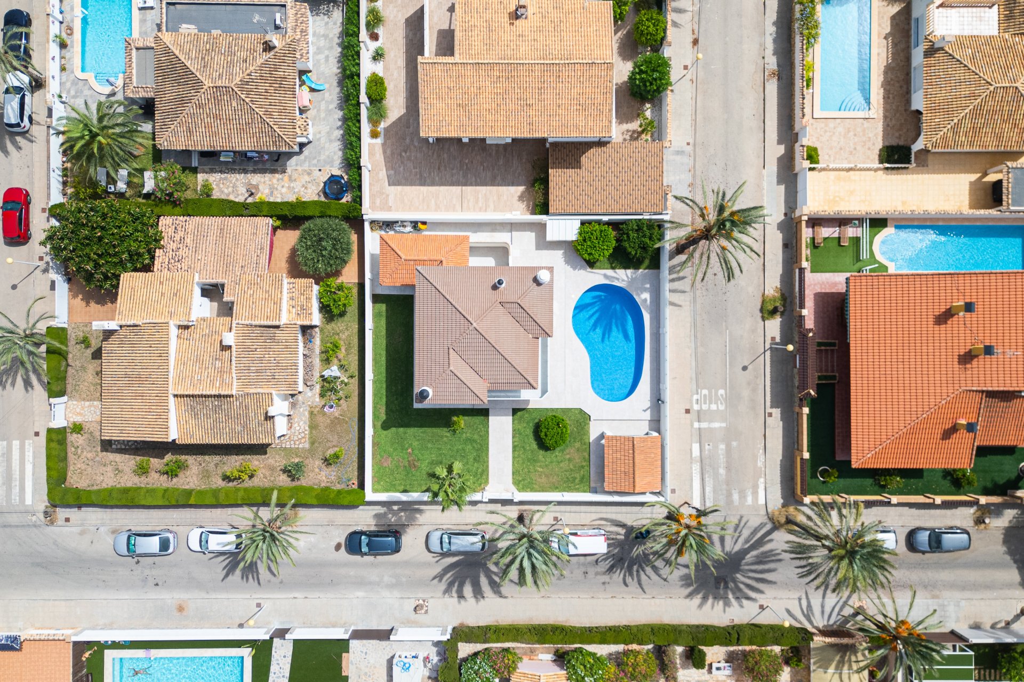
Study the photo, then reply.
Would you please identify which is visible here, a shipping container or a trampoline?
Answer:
trampoline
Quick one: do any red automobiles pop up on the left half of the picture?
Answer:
Yes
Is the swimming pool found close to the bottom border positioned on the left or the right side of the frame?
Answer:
left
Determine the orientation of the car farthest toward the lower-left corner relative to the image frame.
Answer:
from side to side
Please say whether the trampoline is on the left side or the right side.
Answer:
left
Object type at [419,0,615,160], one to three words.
house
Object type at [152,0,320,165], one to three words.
house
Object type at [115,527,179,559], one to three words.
car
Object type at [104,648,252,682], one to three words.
swimming pool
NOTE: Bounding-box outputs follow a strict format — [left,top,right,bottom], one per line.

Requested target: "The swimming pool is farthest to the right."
[872,218,1024,272]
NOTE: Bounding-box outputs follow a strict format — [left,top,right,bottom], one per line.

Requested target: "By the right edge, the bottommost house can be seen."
[841,269,1024,469]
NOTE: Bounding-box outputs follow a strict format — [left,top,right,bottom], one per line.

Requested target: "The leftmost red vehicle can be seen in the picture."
[0,189,36,245]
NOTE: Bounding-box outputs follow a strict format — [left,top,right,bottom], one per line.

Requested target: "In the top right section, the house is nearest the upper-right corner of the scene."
[911,0,1024,151]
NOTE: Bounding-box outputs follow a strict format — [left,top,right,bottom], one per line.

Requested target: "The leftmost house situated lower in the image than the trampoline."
[93,216,331,444]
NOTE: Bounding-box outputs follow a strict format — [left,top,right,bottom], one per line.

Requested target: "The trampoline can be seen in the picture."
[319,172,345,201]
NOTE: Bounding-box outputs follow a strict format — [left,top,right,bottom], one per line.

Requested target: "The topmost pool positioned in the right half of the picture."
[813,0,877,118]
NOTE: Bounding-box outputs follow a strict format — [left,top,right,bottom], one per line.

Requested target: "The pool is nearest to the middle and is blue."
[572,284,645,401]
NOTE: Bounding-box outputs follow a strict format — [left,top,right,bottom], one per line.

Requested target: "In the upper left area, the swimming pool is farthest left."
[74,0,139,95]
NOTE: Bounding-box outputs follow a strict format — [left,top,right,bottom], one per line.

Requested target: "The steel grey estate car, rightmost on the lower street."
[906,525,971,556]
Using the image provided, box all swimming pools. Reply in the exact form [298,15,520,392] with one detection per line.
[872,218,1024,272]
[813,0,877,118]
[74,0,139,95]
[572,284,645,401]
[104,648,252,682]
